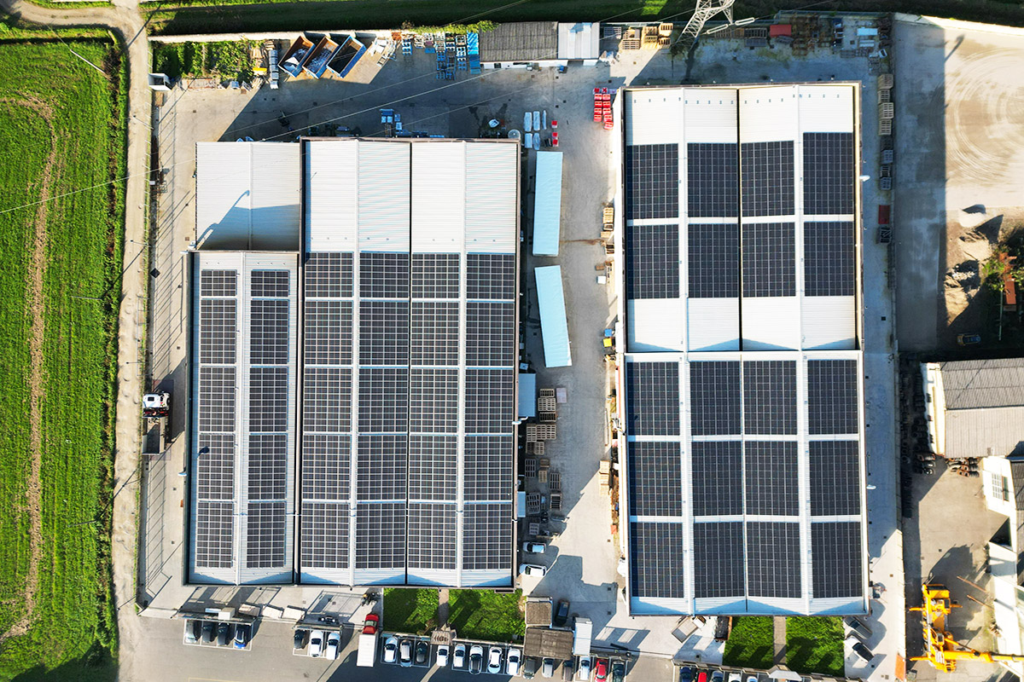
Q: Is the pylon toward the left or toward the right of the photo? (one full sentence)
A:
The pylon appears in the right half of the scene.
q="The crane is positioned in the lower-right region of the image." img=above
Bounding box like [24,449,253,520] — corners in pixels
[908,589,1022,672]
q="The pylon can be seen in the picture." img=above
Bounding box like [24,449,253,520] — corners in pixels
[668,0,731,61]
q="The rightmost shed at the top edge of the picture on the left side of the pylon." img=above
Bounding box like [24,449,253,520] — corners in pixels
[558,21,599,67]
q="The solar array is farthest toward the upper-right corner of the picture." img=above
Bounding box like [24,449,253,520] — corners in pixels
[804,132,853,214]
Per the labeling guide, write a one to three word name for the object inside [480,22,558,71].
shed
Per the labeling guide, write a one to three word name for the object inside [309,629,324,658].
car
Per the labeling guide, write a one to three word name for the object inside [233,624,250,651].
car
